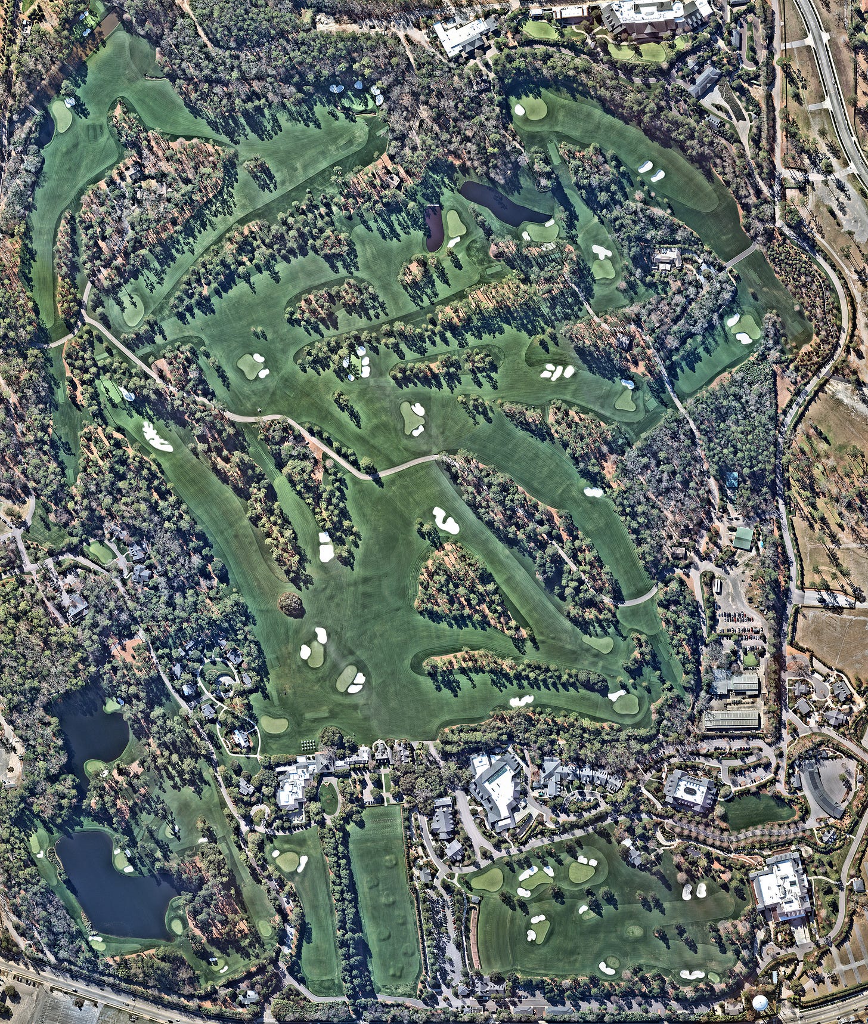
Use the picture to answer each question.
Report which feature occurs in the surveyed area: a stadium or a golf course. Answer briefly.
golf course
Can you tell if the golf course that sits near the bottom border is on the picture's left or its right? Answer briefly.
left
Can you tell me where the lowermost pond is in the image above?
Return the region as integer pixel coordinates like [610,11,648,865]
[55,831,181,942]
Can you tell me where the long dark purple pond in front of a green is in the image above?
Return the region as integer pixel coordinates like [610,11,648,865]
[460,181,553,228]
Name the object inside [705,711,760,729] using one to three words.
shed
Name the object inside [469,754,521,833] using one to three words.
building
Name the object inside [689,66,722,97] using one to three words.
building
